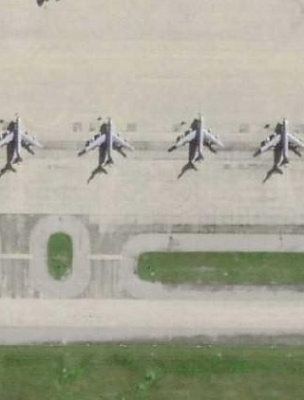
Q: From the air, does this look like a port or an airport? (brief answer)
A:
airport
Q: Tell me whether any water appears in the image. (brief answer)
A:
No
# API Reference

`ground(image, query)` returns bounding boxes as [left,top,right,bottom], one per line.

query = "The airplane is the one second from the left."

[87,119,134,169]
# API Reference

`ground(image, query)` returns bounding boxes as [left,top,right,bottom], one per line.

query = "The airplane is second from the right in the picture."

[178,116,226,165]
